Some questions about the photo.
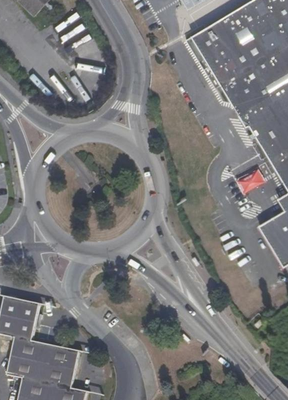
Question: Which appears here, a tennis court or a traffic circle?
traffic circle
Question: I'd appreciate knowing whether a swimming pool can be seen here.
No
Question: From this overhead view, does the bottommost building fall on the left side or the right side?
left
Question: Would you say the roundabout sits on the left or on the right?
left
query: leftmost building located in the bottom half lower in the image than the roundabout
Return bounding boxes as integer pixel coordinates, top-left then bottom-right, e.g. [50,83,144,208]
[0,296,41,340]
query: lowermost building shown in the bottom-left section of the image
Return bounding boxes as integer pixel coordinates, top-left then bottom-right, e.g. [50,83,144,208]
[8,336,88,400]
